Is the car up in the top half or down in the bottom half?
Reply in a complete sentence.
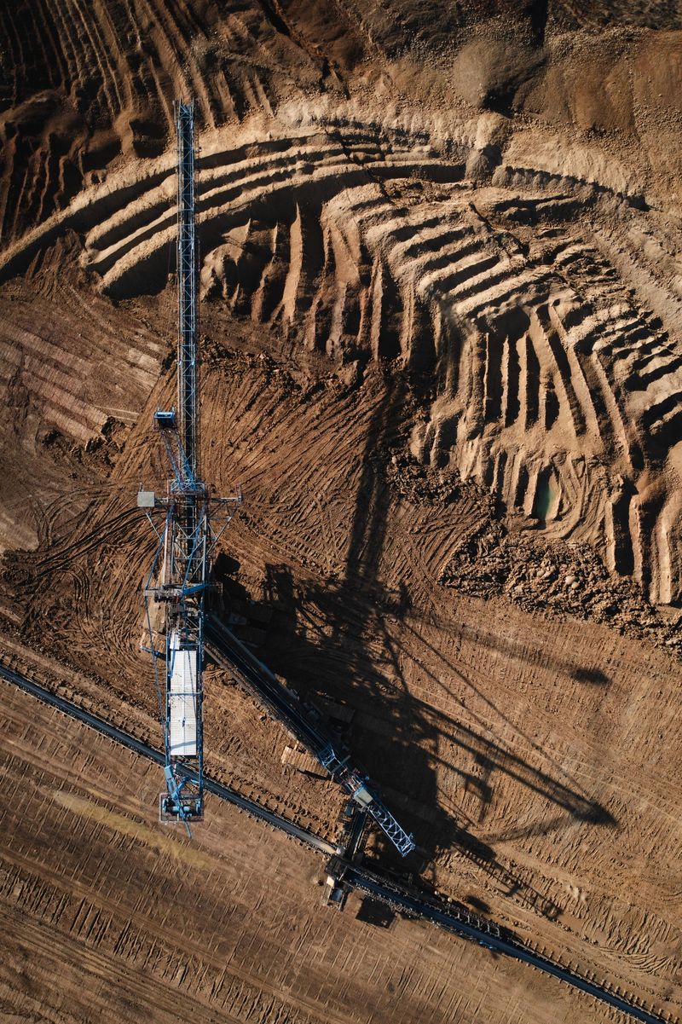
You can find the car in the bottom half.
